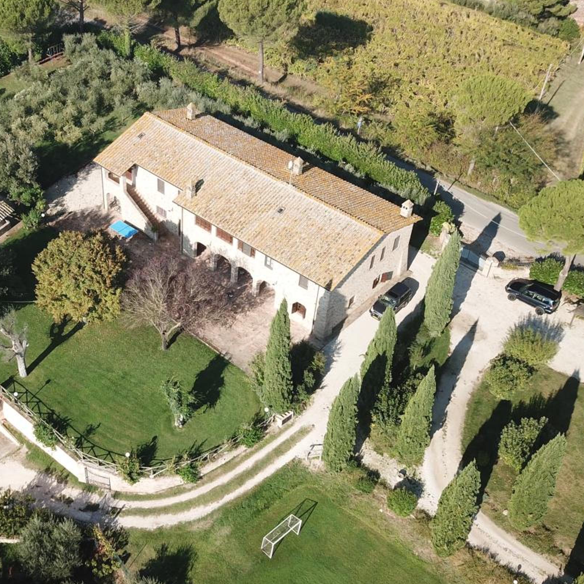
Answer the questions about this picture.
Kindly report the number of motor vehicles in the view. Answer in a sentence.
My tally gives 2 motor vehicles in this view.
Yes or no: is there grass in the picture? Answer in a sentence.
Yes, there's grass in this view.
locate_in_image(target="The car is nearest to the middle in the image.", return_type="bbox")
[370,277,419,322]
